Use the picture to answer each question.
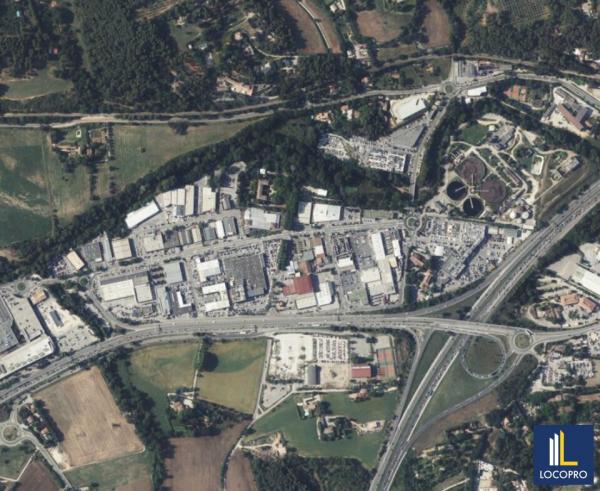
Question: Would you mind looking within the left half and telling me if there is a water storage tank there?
No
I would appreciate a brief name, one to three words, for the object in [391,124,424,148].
building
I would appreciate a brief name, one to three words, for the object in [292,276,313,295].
building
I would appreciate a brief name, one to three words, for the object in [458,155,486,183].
water tank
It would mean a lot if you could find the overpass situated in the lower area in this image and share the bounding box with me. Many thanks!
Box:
[439,319,489,336]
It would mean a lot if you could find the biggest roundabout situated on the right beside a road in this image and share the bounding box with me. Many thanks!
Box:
[508,326,538,357]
